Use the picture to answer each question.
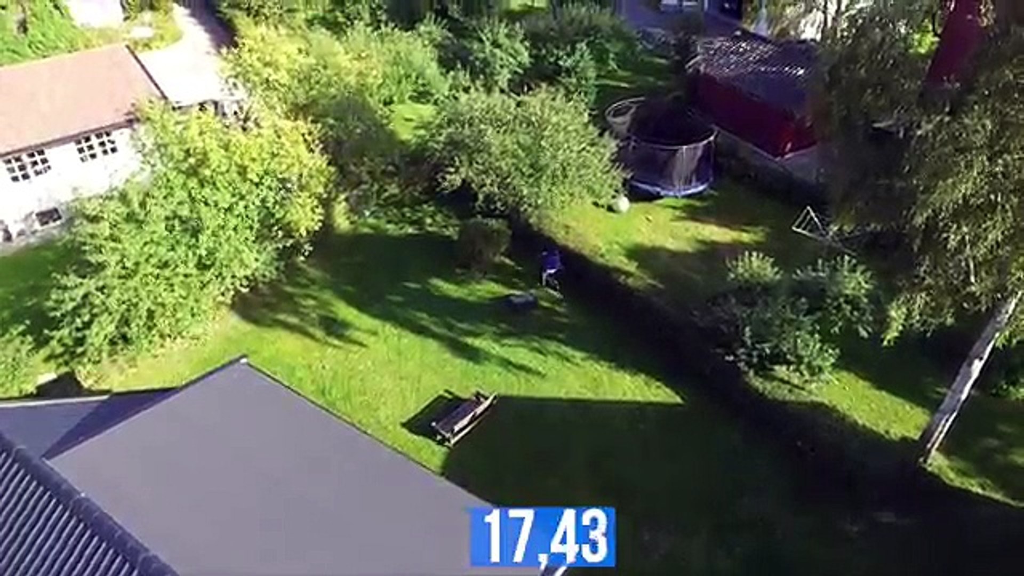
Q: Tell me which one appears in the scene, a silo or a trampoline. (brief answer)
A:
trampoline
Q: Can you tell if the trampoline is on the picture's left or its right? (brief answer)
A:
right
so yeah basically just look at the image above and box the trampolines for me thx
[629,107,721,195]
